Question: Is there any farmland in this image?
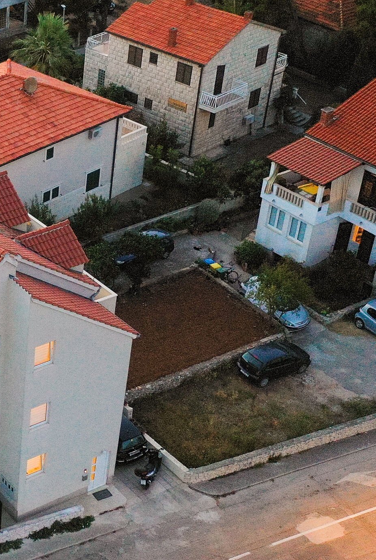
No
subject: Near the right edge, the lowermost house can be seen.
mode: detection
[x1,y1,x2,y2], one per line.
[255,75,376,261]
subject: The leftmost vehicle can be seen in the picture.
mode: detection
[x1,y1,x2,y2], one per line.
[117,399,146,456]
